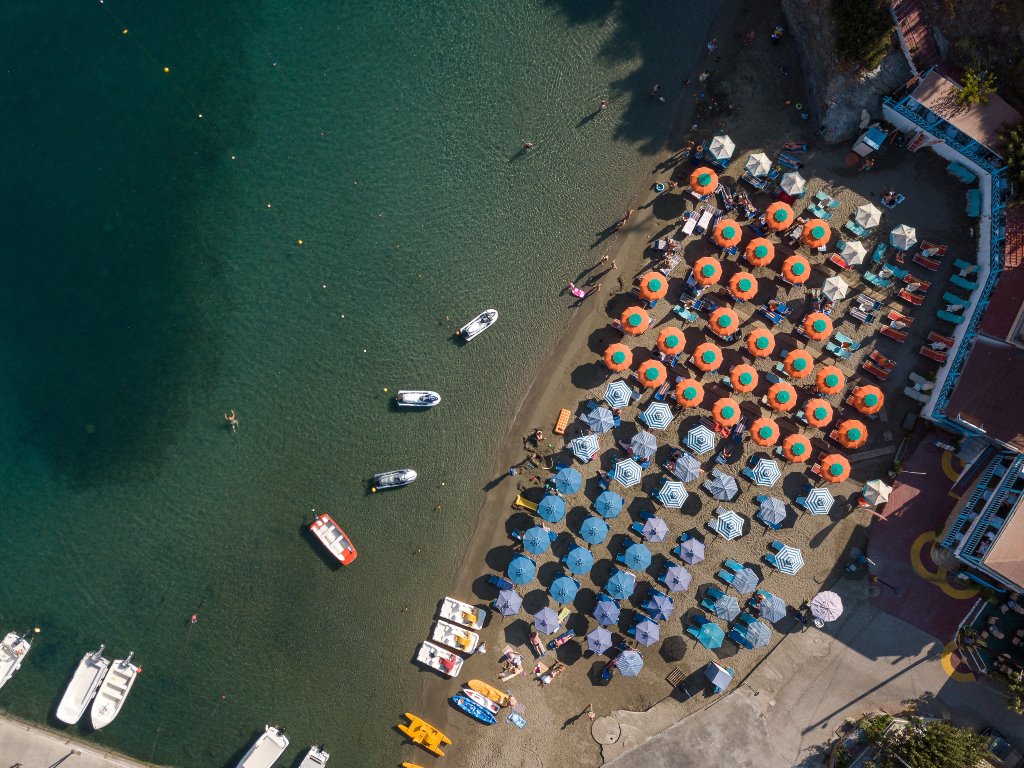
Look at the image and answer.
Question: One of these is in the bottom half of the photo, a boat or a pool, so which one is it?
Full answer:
The one visible in the bottom half of the photo is a boat.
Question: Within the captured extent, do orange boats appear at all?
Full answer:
Yes, an orange boat is visible in the scene.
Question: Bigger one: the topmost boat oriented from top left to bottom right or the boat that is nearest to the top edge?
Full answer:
Compared with the boat that is nearest to the top edge, the topmost boat oriented from top left to bottom right is the bigger one.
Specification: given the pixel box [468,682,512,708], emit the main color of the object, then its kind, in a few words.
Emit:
orange boat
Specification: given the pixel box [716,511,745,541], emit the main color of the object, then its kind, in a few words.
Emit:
white umbrella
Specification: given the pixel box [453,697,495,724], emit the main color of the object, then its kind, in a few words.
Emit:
blue boat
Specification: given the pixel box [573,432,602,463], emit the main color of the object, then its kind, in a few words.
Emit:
white umbrella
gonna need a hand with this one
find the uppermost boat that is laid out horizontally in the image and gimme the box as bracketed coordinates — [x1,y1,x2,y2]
[397,390,440,407]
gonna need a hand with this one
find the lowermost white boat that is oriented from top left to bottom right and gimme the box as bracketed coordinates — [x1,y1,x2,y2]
[463,691,500,714]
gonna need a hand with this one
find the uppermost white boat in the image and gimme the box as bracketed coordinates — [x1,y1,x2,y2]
[458,310,497,343]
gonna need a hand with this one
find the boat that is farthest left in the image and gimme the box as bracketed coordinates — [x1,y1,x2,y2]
[0,628,36,689]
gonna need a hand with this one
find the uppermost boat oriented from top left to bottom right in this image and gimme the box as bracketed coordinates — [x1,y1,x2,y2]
[308,509,356,566]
